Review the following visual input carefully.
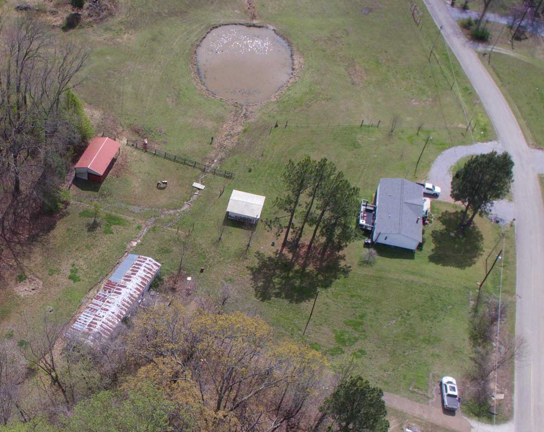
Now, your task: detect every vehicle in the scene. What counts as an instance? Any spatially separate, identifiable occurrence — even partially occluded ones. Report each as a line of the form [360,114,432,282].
[423,183,444,197]
[438,376,460,409]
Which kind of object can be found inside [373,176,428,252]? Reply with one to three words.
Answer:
house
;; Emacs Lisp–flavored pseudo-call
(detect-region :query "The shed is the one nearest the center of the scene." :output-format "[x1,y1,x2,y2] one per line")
[226,189,266,227]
